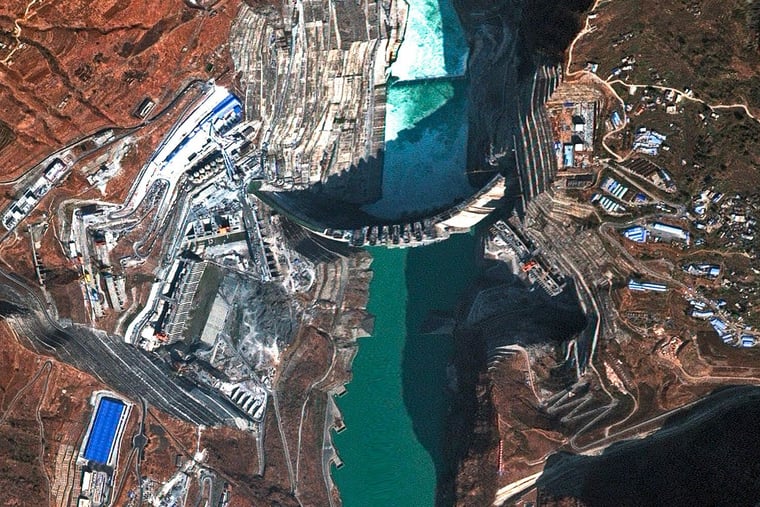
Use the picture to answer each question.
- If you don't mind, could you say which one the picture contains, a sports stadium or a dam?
dam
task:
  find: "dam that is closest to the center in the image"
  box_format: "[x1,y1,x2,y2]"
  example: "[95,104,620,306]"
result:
[249,174,508,247]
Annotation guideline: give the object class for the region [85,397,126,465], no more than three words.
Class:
building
